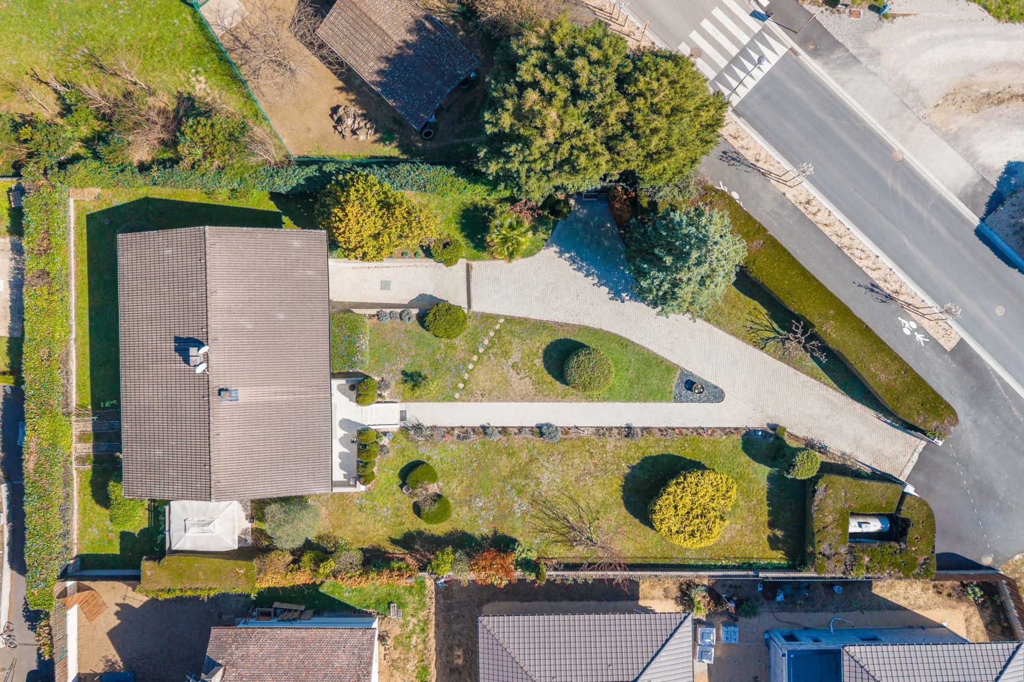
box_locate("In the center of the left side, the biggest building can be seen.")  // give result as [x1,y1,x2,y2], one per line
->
[116,226,334,502]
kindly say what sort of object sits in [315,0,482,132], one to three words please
building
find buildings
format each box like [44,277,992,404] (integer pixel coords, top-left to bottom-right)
[201,616,380,682]
[315,0,482,132]
[768,628,1024,682]
[116,226,334,502]
[475,602,695,682]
